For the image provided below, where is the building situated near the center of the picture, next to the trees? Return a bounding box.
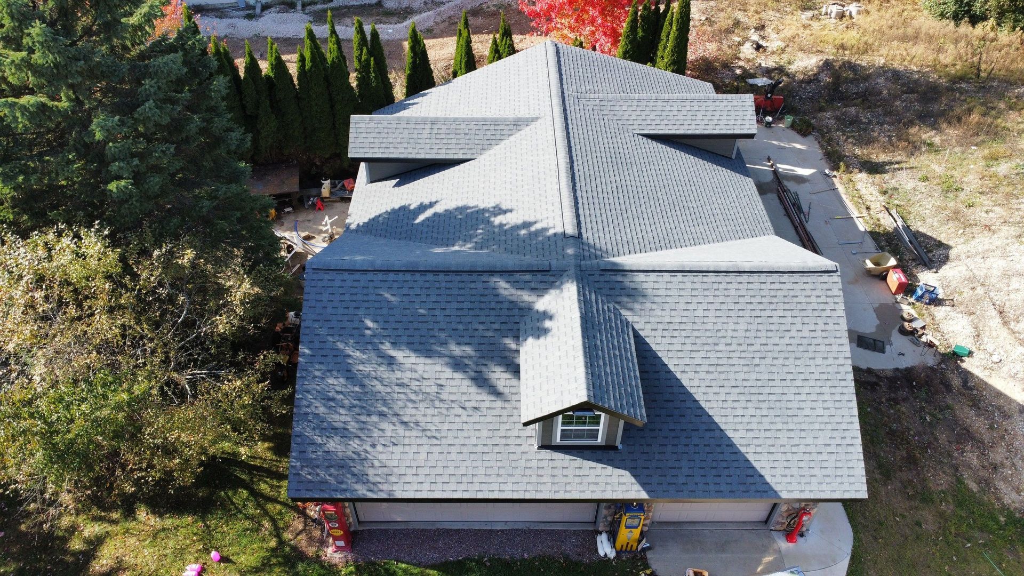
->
[289,40,868,534]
